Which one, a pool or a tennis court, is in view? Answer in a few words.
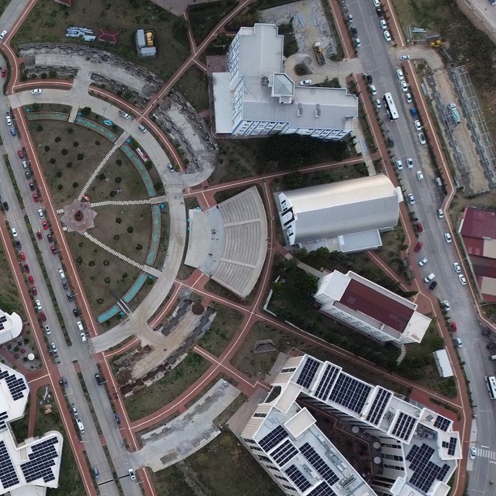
pool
